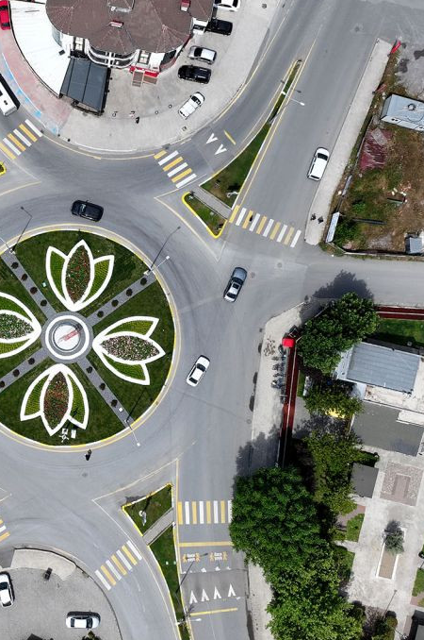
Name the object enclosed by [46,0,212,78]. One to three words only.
building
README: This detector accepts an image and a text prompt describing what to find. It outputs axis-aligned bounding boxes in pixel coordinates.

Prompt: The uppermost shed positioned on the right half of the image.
[379,95,424,132]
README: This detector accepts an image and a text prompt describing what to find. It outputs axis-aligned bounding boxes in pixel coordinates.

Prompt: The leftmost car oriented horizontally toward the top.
[71,202,104,220]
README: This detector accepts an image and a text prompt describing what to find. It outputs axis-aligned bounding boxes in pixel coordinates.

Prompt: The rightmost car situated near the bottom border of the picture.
[65,611,99,629]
